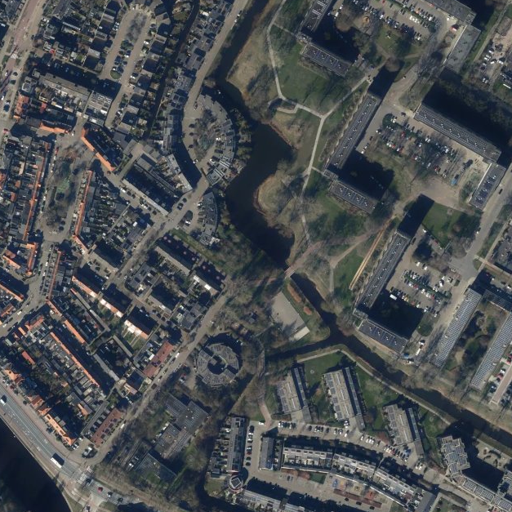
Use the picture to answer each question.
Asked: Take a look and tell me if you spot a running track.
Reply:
No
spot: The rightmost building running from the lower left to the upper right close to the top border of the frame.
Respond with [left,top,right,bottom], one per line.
[443,24,482,74]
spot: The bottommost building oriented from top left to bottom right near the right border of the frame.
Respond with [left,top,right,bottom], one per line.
[460,473,512,512]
